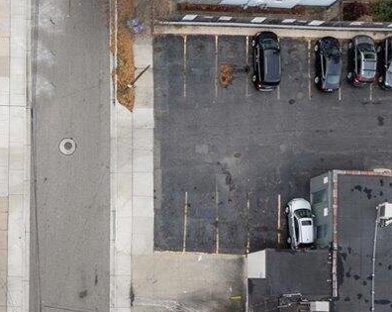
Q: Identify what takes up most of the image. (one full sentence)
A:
The bulk of the photo consists of paved ground.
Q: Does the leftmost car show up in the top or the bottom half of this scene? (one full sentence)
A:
Seen from above, the leftmost car lies in the top half of the view.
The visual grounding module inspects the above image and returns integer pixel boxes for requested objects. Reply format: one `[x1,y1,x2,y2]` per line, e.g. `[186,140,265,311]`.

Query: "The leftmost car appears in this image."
[251,31,283,90]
